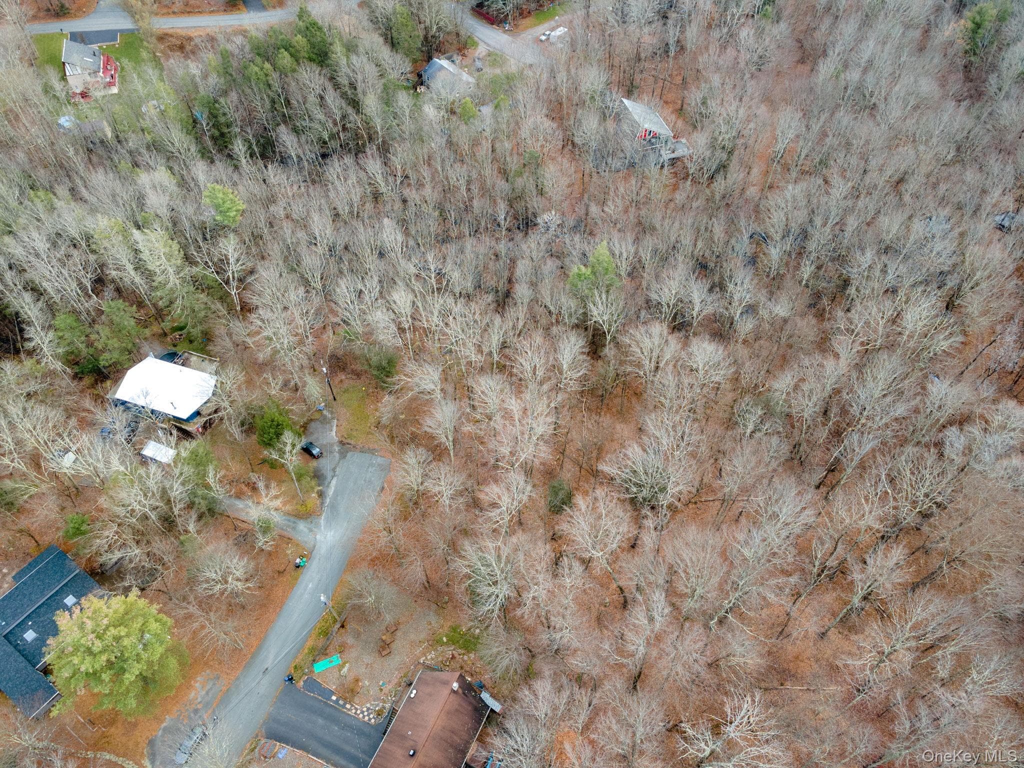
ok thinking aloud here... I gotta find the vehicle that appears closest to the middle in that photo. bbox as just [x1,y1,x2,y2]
[301,442,326,461]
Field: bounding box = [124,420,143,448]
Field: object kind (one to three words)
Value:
vehicle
